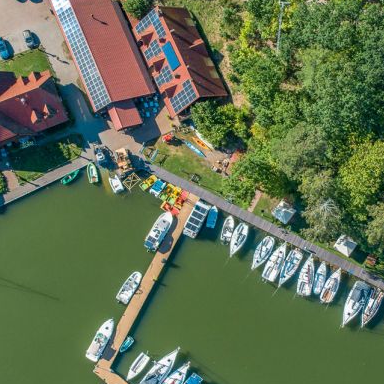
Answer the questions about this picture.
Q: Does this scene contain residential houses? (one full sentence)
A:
Yes, there is a residential house in the image.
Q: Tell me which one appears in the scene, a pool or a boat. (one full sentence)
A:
The image shows a boat.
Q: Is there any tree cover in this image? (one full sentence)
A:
Yes, there is tree cover in the image.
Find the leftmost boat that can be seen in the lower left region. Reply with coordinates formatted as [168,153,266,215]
[86,319,114,365]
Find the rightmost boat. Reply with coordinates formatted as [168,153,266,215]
[362,289,384,326]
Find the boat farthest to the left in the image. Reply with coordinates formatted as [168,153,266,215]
[61,172,79,185]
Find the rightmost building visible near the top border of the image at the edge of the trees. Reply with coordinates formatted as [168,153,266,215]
[133,7,227,118]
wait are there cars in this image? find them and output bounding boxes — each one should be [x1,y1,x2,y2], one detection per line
[0,35,9,58]
[20,27,37,48]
